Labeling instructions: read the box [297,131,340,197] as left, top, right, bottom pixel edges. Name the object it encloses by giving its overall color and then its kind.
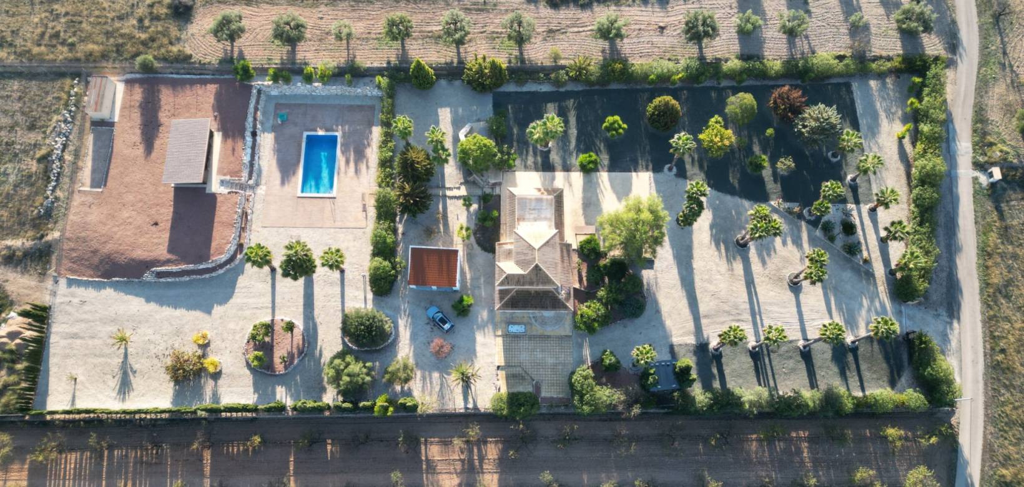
blue swimming pool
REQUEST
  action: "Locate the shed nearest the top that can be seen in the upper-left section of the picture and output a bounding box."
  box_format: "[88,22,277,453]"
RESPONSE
[86,75,119,124]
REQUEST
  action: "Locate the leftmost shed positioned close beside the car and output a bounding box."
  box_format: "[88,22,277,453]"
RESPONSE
[407,245,462,293]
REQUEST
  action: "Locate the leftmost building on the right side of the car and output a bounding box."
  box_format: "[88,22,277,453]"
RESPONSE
[495,186,573,315]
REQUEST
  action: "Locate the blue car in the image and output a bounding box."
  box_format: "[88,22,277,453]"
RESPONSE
[425,303,456,334]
